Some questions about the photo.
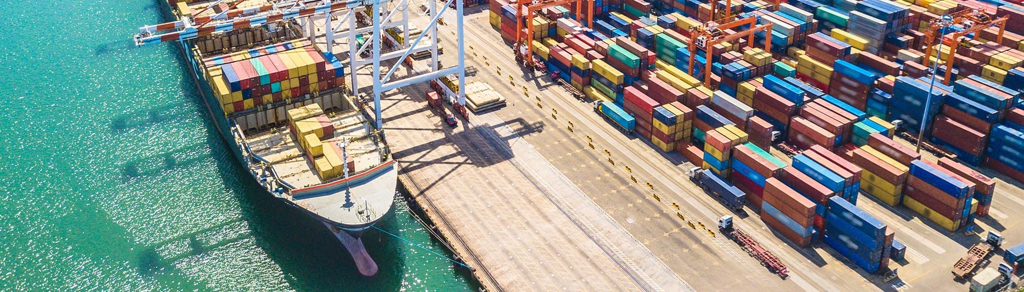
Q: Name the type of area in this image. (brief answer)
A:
port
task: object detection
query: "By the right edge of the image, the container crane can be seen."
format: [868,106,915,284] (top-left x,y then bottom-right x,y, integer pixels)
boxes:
[924,3,1014,92]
